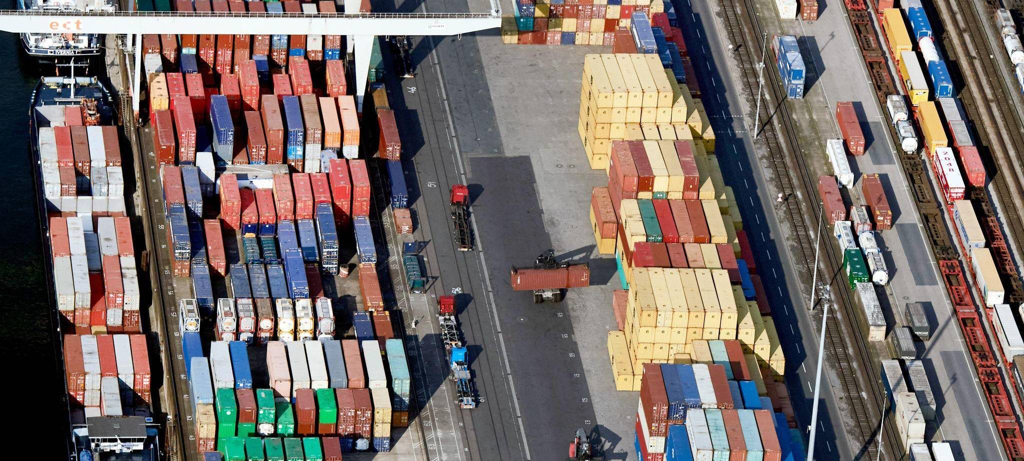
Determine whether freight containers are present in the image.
Yes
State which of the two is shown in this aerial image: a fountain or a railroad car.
railroad car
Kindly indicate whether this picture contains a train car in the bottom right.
Yes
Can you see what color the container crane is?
white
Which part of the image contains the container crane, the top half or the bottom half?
top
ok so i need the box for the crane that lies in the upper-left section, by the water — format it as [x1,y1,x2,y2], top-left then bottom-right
[0,0,506,124]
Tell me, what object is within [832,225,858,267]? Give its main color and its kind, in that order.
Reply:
white shipping container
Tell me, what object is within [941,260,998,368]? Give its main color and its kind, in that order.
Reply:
red rail car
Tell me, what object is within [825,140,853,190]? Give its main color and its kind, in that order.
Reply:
white shipping container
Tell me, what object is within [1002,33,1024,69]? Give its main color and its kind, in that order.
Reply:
white rail car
